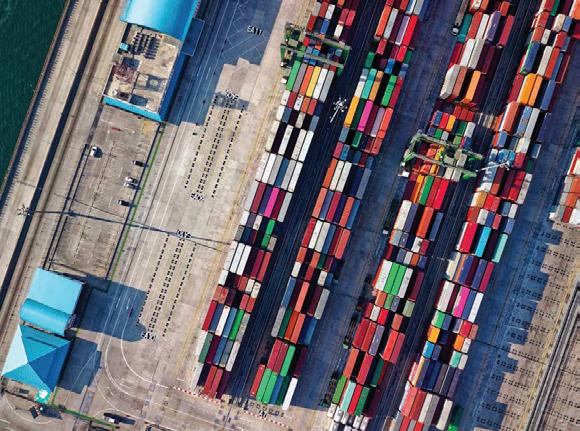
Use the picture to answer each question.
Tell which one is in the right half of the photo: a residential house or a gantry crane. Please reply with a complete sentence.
The feature located in the right half of the photo is a gantry crane.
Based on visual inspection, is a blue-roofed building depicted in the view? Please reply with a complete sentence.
Yes, a blue-roofed building can be made out from above.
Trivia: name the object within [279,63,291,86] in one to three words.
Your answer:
vehicle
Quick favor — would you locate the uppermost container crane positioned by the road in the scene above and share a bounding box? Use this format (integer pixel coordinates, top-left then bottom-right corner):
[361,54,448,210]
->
[276,23,353,86]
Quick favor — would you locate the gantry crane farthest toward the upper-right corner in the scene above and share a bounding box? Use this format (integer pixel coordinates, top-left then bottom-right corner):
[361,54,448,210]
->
[396,130,484,185]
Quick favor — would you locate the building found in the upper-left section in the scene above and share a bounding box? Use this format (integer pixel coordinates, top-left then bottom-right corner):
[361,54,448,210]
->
[99,0,215,126]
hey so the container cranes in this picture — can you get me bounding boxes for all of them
[396,130,484,185]
[276,23,353,86]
